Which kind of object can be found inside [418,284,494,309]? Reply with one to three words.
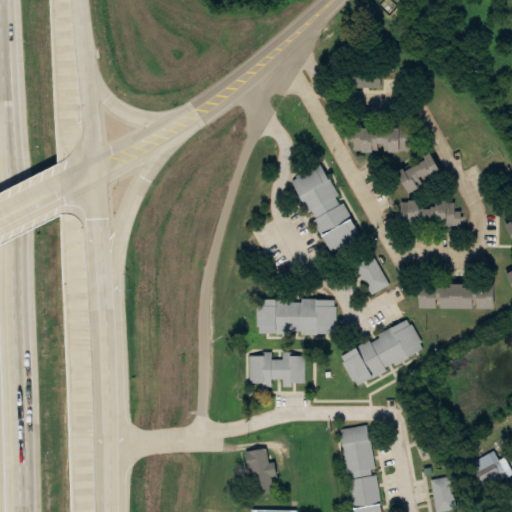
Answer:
building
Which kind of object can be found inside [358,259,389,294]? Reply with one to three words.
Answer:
house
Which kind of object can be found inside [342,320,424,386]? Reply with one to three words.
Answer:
building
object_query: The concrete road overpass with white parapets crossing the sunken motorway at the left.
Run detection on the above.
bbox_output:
[0,163,60,245]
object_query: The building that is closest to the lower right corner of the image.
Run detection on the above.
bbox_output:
[480,452,512,482]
